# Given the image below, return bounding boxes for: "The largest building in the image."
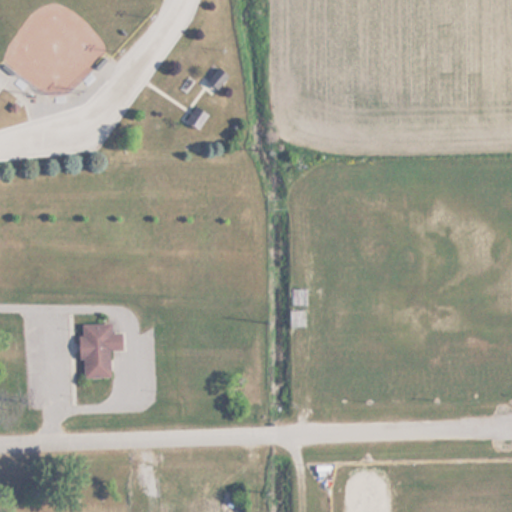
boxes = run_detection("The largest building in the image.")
[80,325,124,380]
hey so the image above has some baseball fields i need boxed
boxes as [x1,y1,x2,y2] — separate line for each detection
[0,0,162,94]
